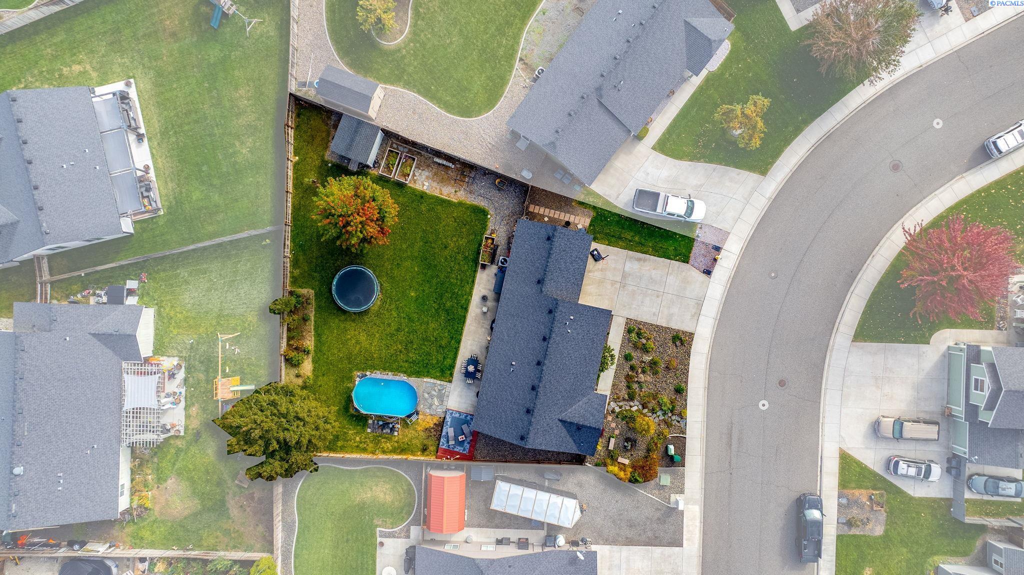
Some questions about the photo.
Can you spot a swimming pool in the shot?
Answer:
Yes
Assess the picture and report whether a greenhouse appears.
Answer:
Yes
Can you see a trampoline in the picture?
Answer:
Yes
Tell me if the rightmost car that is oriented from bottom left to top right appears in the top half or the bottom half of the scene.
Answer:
top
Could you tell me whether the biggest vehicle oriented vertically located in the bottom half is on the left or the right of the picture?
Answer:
right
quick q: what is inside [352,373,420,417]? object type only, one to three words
swimming pool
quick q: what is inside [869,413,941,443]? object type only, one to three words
car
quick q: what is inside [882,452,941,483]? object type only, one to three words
car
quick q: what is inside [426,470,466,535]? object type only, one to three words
shed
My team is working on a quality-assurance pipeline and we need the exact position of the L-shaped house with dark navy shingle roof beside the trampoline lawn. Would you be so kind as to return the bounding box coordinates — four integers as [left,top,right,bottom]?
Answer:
[475,220,611,456]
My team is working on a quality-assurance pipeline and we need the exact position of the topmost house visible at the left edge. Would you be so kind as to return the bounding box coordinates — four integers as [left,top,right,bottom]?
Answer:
[0,86,134,266]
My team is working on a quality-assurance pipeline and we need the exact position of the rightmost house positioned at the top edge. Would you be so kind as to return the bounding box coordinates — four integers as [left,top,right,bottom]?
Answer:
[507,0,735,186]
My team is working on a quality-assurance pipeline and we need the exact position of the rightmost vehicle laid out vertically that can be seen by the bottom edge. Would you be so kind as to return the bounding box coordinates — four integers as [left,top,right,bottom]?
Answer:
[793,491,827,567]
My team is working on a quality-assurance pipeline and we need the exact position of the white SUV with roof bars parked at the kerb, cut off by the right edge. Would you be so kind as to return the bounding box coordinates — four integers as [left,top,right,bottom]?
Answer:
[977,118,1024,161]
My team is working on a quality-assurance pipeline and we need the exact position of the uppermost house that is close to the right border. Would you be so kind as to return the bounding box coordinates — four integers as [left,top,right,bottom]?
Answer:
[948,345,1024,466]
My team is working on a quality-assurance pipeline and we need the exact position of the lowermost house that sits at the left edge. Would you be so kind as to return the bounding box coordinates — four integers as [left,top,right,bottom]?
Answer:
[0,302,158,531]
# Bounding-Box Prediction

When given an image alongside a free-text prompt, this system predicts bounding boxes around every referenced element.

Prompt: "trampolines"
[328,265,380,311]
